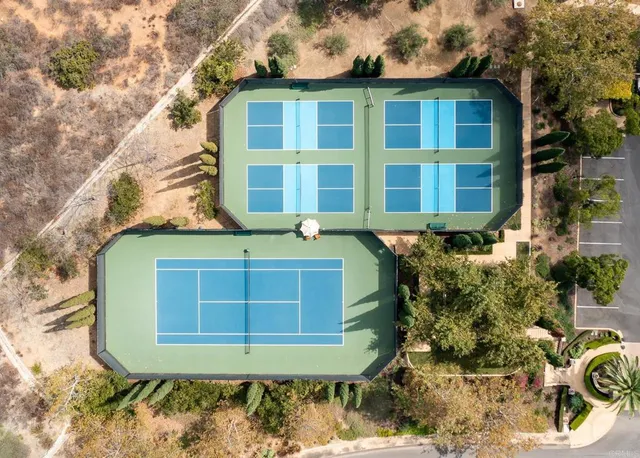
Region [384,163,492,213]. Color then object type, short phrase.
blue sports court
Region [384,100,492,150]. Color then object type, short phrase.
blue sports court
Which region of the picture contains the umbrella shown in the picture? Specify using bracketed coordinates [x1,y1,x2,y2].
[300,217,319,237]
